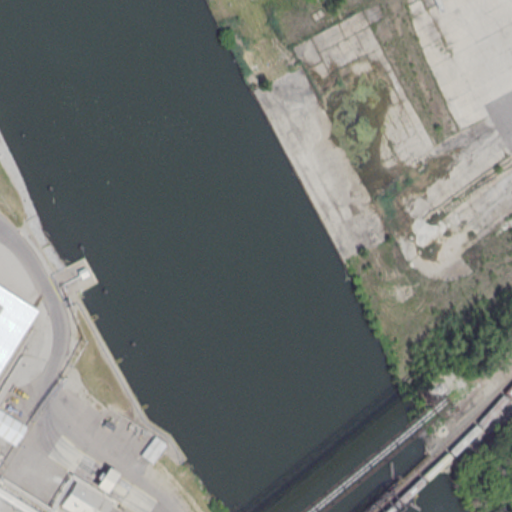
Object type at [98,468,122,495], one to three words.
building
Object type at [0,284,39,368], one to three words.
building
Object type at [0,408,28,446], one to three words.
shed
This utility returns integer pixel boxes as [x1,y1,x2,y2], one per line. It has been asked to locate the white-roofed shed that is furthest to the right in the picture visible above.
[140,436,168,466]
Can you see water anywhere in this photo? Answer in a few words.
Yes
